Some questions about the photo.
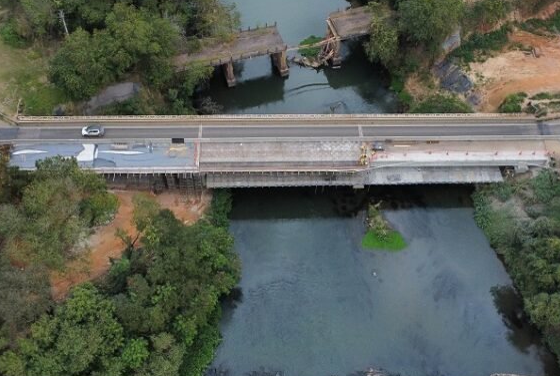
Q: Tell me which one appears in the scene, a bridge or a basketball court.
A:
bridge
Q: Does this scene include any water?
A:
Yes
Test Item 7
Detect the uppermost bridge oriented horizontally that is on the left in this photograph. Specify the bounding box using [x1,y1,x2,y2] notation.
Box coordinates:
[148,20,287,86]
